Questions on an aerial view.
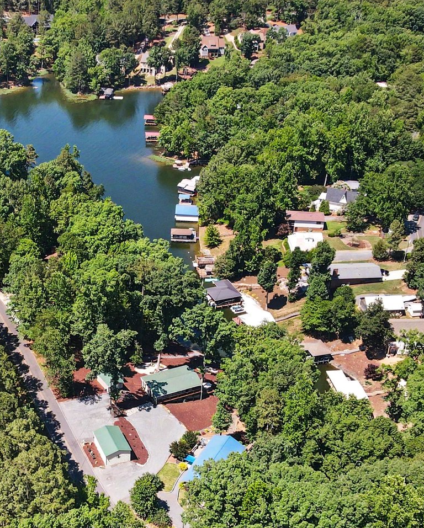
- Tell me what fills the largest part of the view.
trees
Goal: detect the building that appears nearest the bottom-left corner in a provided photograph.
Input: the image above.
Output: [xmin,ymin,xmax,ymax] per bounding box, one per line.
[93,426,131,467]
